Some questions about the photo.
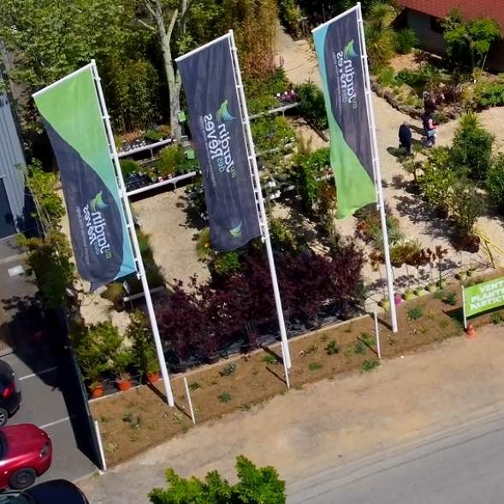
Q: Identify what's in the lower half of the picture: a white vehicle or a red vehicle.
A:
red vehicle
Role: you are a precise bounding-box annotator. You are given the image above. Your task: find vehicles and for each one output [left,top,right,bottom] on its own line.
[0,430,49,485]
[0,478,89,504]
[0,359,29,429]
